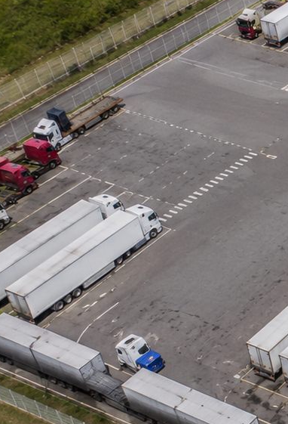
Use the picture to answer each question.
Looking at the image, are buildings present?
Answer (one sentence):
No, I can't see a single building in this photo.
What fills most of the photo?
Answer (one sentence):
The scene is dominated by paved ground.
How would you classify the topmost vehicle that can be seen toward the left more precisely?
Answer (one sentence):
From above, the topmost vehicle that can be seen toward the left can be identified as a truck.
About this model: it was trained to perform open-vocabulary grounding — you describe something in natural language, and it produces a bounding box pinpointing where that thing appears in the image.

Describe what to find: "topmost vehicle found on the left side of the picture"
[27,93,126,149]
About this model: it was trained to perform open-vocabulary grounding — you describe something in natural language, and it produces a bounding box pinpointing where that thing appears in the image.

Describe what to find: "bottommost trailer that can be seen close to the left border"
[0,312,110,398]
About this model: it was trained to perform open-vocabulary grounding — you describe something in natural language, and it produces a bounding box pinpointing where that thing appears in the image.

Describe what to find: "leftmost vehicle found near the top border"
[242,8,268,39]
